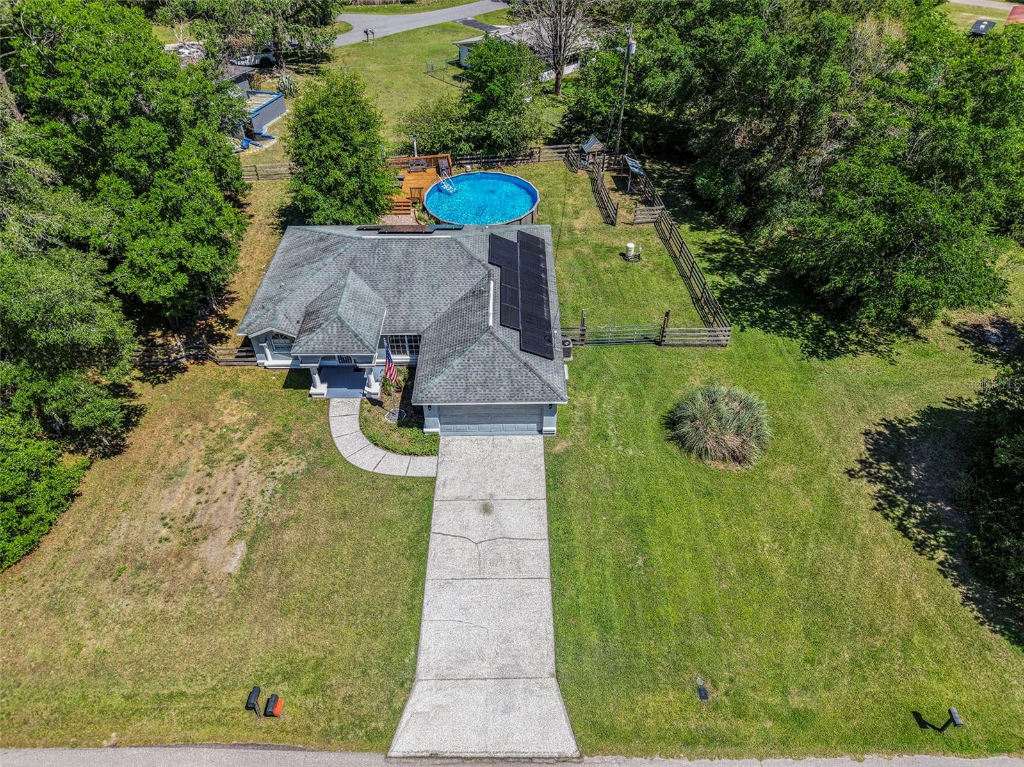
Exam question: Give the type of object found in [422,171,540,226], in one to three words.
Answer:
swimming pool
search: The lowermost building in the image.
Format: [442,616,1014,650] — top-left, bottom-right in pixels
[238,224,567,436]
